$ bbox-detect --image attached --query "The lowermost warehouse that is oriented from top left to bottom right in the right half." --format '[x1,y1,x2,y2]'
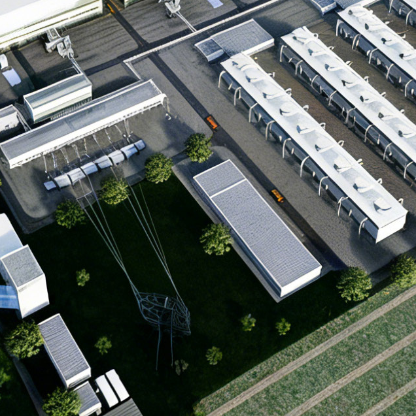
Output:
[190,160,320,299]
